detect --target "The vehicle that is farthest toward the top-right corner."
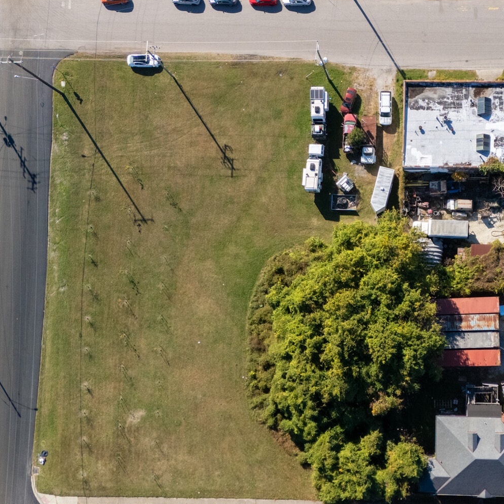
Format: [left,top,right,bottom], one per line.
[378,91,393,126]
